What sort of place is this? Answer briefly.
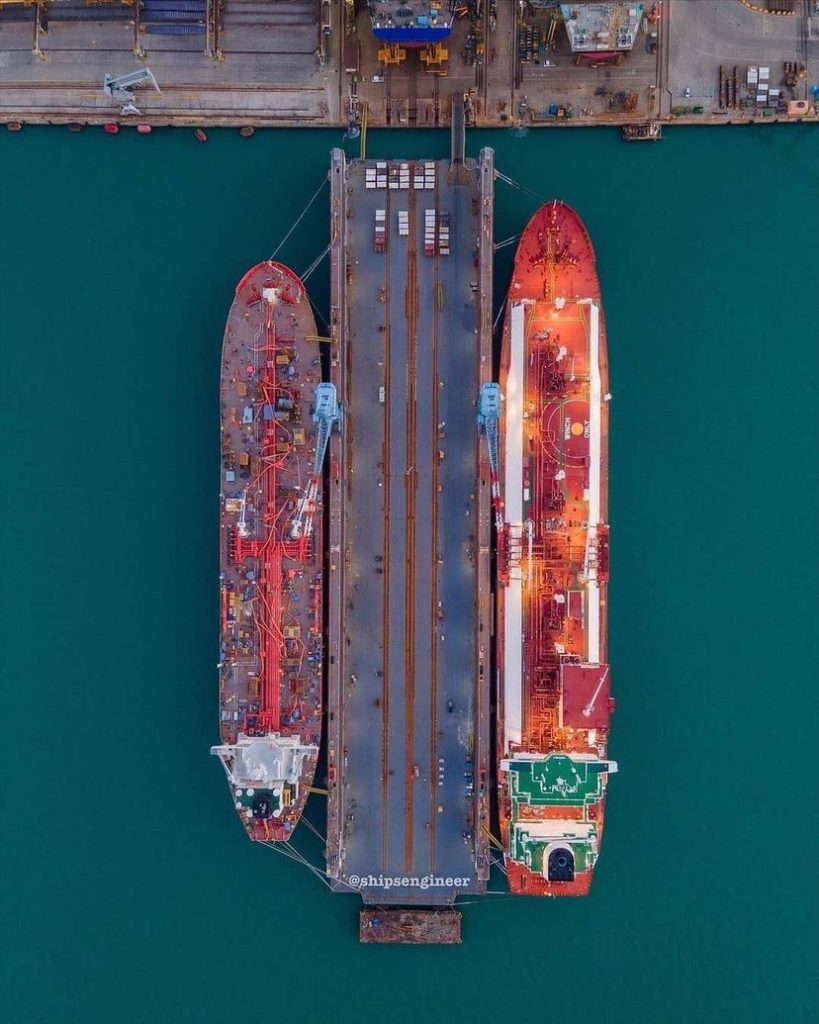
port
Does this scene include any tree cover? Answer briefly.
No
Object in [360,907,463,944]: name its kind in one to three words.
ship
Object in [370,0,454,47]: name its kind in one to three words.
ship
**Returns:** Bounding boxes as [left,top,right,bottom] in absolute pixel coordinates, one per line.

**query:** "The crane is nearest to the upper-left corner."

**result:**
[104,66,164,118]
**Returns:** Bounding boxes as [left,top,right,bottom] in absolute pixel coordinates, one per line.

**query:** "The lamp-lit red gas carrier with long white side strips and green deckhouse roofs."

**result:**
[495,199,618,896]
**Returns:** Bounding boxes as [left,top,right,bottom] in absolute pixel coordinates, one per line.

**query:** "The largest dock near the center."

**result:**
[326,145,494,905]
